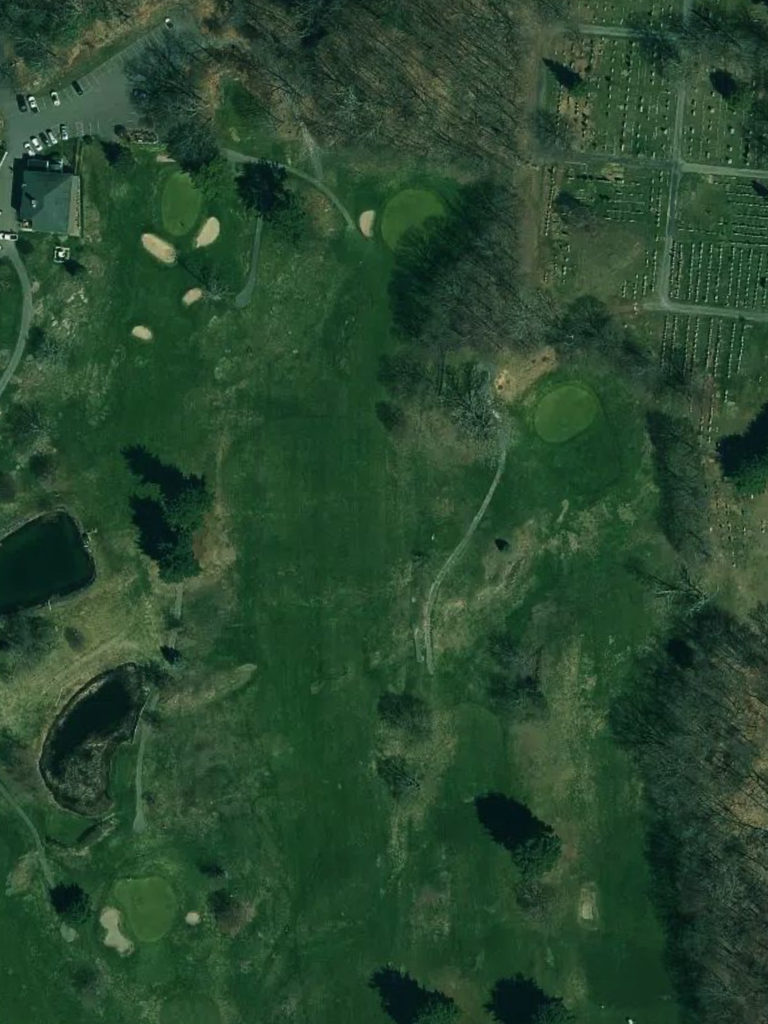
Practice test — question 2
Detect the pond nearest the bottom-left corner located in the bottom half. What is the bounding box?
[46,672,136,778]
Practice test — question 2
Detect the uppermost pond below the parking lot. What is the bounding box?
[0,514,93,612]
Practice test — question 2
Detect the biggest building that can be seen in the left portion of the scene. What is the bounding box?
[19,168,81,233]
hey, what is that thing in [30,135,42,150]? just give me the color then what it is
white vehicle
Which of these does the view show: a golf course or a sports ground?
golf course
